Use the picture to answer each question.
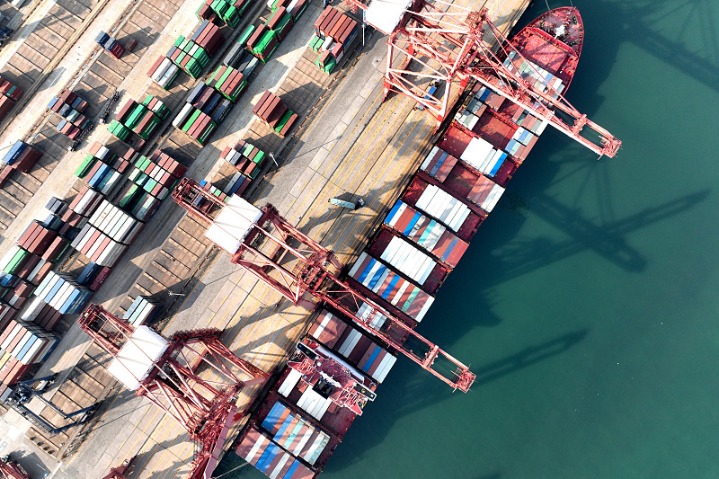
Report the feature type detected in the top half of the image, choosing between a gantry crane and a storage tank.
gantry crane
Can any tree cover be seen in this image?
No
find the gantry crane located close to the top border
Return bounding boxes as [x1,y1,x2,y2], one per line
[337,0,628,161]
